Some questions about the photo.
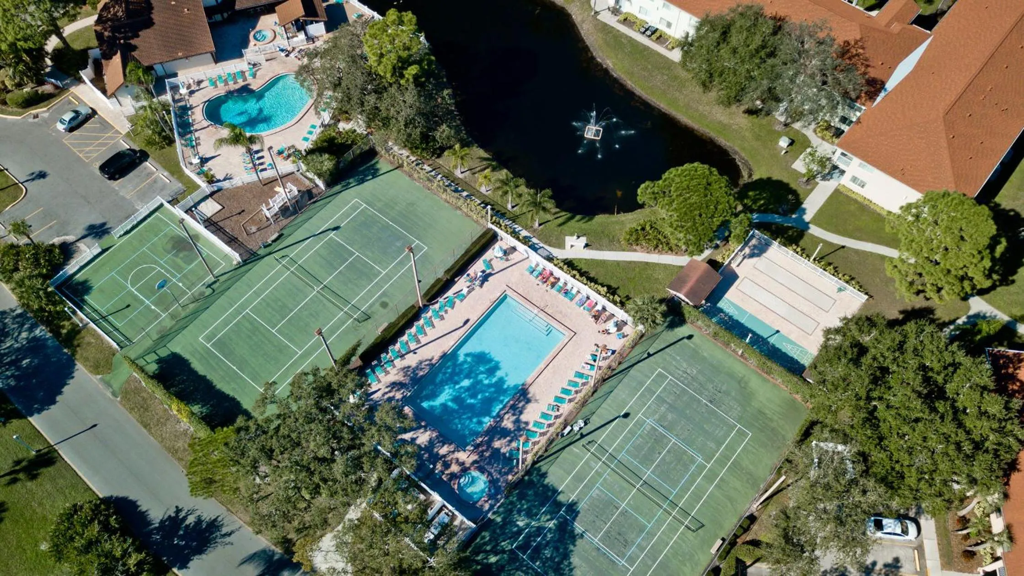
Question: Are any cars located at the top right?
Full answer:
No, no car is visible at the top right.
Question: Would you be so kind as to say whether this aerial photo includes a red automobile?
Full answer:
No, I can't see a single red automobile in this photo.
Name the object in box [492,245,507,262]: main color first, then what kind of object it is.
white umbrella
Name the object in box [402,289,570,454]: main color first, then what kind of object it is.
blue swimming pool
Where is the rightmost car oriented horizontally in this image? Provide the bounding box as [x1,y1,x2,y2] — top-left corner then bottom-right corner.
[866,516,920,541]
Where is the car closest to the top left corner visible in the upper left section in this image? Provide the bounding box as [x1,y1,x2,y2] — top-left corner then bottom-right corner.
[55,104,95,132]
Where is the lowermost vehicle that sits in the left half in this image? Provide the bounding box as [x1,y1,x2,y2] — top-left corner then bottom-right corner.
[98,148,142,179]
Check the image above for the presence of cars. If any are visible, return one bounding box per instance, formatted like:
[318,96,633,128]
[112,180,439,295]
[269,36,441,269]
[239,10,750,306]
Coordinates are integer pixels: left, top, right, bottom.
[866,516,920,541]
[55,104,95,132]
[98,148,142,179]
